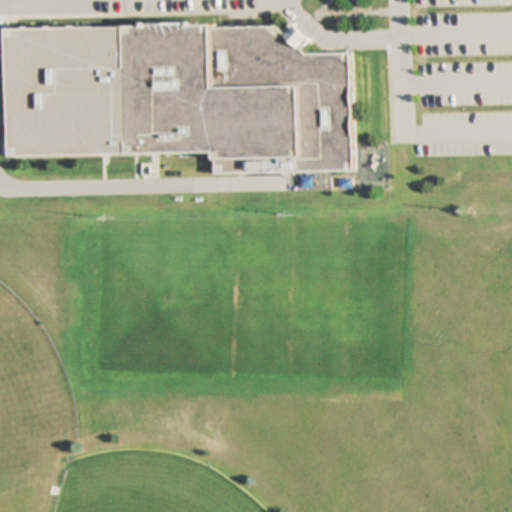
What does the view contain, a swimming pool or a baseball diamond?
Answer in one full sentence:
This aerial view contains a baseball diamond.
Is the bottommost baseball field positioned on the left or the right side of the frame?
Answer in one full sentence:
The bottommost baseball field is on the left side of the image.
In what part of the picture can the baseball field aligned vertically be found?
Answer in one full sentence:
The baseball field aligned vertically is located in the bottom left region of the scene.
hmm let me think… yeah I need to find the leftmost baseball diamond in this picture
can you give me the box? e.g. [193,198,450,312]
[0,284,76,512]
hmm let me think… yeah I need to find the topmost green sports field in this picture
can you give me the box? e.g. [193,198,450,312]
[62,214,415,401]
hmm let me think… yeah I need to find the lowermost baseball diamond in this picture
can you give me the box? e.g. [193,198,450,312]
[56,448,268,512]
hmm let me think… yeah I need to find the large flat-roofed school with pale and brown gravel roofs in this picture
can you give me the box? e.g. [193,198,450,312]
[0,22,358,174]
